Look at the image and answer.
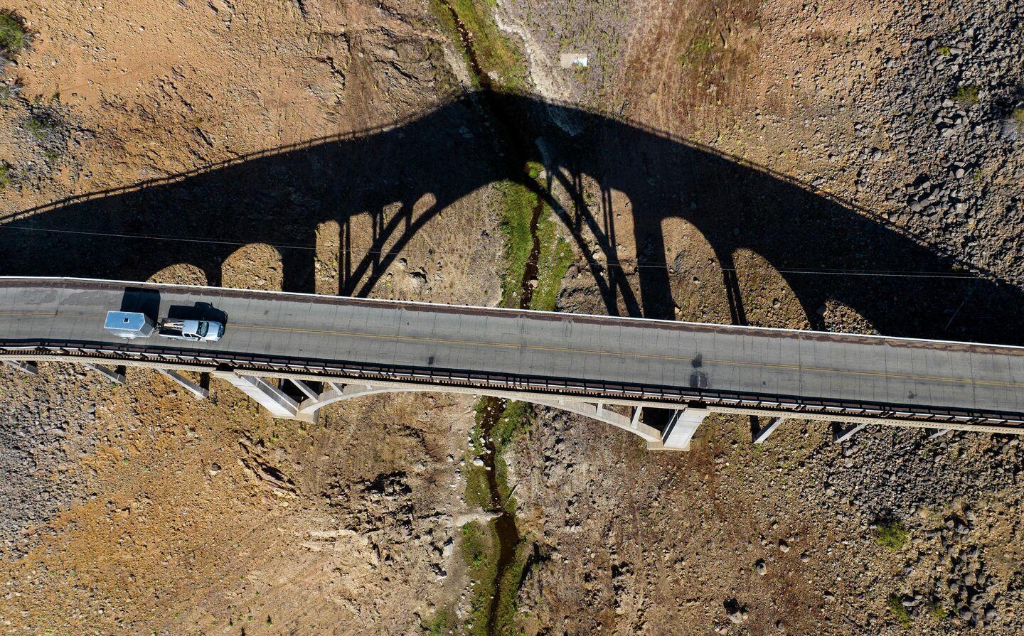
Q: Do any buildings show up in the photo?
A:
No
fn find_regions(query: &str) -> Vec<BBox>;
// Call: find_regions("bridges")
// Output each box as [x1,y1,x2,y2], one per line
[0,275,1024,451]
